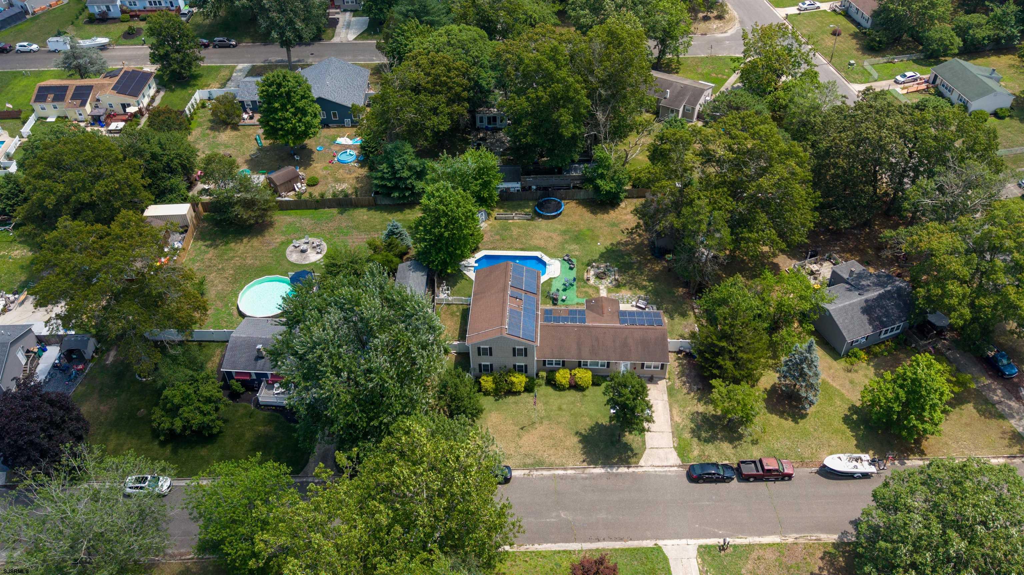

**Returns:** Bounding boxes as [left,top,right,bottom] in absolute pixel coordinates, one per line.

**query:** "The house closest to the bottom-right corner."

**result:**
[799,259,916,356]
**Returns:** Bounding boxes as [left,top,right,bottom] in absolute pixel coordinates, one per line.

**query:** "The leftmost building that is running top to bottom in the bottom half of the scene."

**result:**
[0,324,38,405]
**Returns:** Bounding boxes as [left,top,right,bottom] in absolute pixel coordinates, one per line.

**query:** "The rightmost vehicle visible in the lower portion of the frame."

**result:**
[986,347,1024,384]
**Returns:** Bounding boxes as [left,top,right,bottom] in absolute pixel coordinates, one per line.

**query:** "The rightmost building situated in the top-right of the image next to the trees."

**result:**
[927,58,1016,114]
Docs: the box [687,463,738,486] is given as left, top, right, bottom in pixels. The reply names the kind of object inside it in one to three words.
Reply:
car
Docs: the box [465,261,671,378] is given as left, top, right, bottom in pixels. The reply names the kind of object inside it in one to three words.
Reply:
house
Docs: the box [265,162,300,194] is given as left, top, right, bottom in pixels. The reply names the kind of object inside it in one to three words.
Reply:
shed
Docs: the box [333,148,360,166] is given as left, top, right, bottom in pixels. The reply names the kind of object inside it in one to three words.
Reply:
swimming pool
